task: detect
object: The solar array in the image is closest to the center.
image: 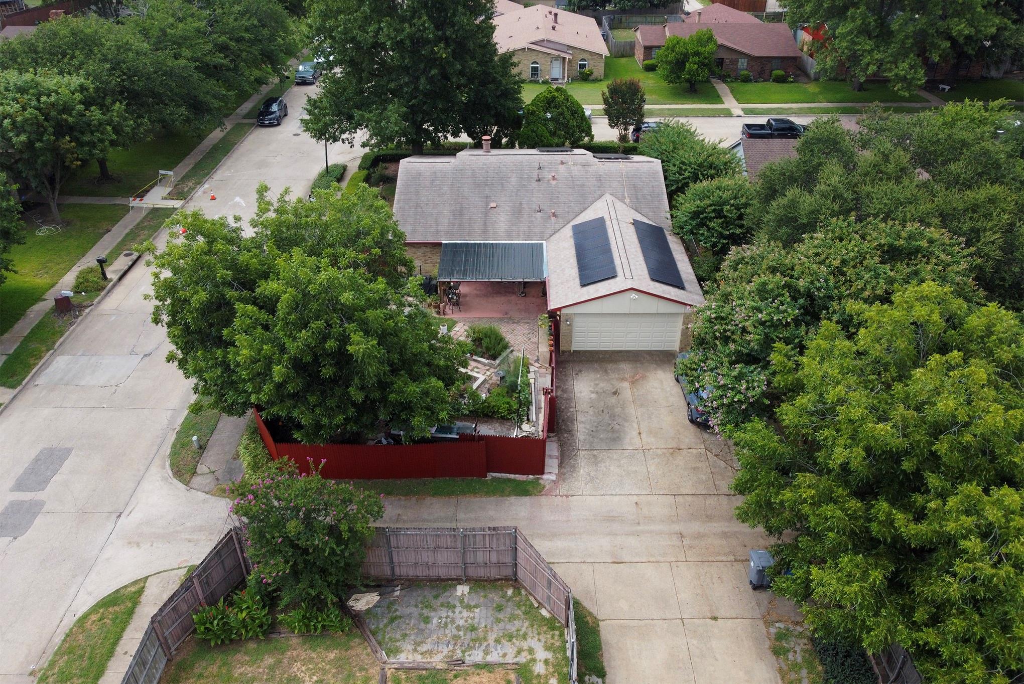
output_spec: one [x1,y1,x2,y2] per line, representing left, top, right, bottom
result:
[570,214,617,286]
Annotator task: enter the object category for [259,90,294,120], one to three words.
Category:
car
